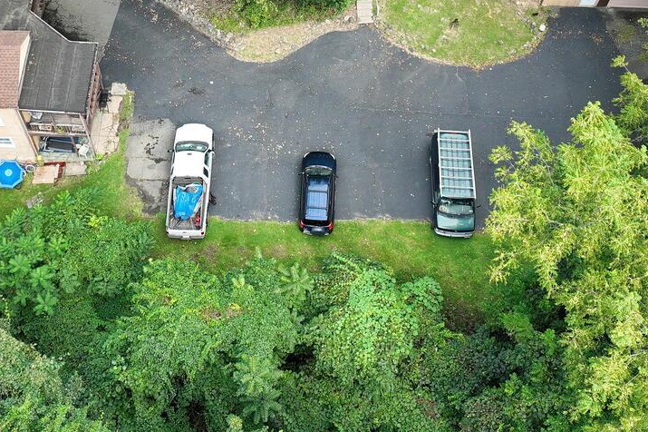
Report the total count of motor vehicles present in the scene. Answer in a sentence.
The photo contains 3 motor vehicles.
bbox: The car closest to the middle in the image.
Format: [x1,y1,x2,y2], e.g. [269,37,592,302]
[298,154,342,234]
